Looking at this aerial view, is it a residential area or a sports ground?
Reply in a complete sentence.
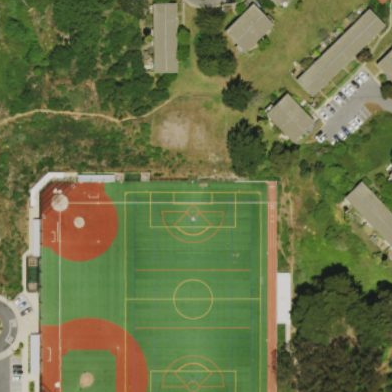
This image shows a sports ground.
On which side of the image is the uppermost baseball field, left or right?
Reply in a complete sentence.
You can find the uppermost baseball field on the left side of the picture.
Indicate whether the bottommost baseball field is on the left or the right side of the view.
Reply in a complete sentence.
The bottommost baseball field appears in the left half of the scene.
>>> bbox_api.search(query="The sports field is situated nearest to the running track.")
[40,182,268,392]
